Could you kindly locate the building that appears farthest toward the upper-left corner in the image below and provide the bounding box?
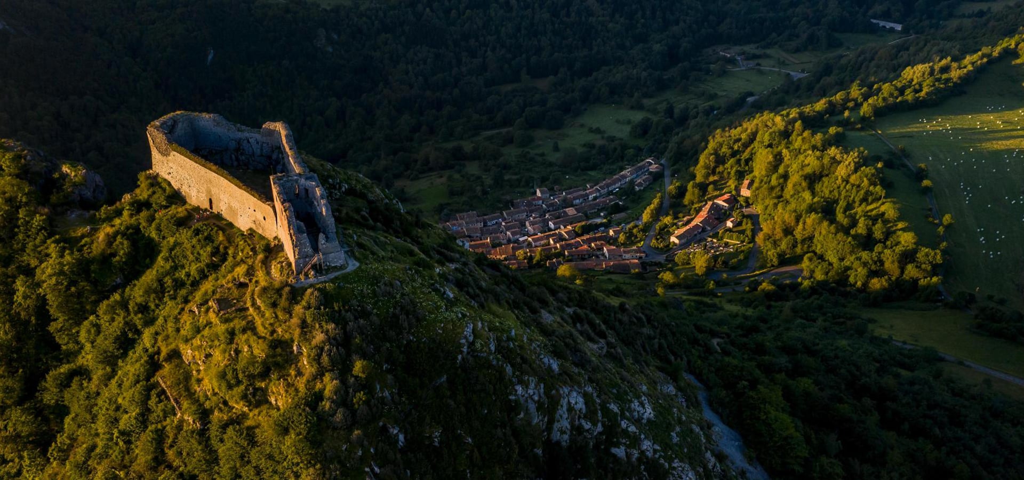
[146,110,349,275]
